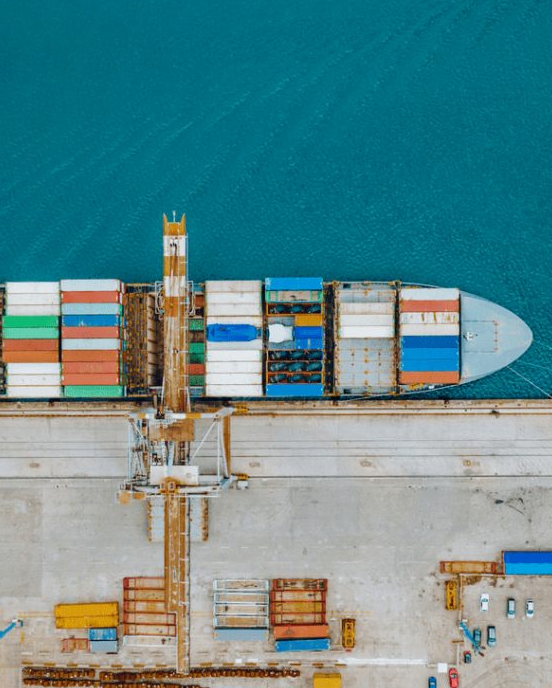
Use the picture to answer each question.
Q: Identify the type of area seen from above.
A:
port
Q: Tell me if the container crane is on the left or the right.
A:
left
